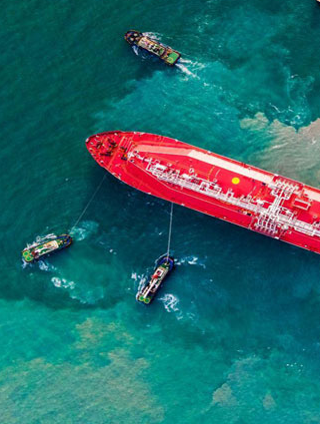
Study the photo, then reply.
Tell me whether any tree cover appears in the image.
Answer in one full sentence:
No, the scene doesn't show any tree cover.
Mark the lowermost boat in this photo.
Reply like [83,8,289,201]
[138,255,172,303]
